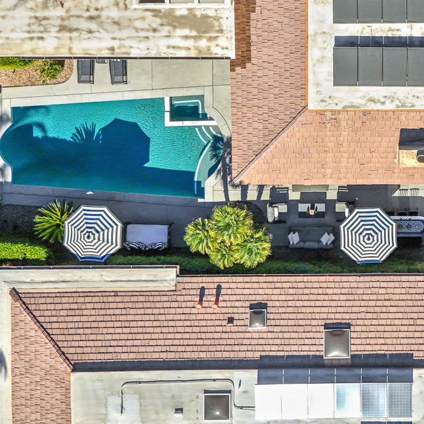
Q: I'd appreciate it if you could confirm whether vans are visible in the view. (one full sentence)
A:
No, no van is visible in the view.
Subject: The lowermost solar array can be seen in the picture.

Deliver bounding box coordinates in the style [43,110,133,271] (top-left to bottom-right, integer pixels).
[255,383,413,421]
